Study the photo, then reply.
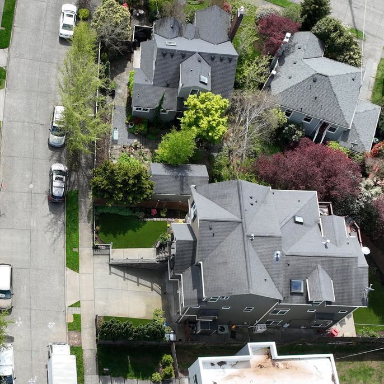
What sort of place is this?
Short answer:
residential area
